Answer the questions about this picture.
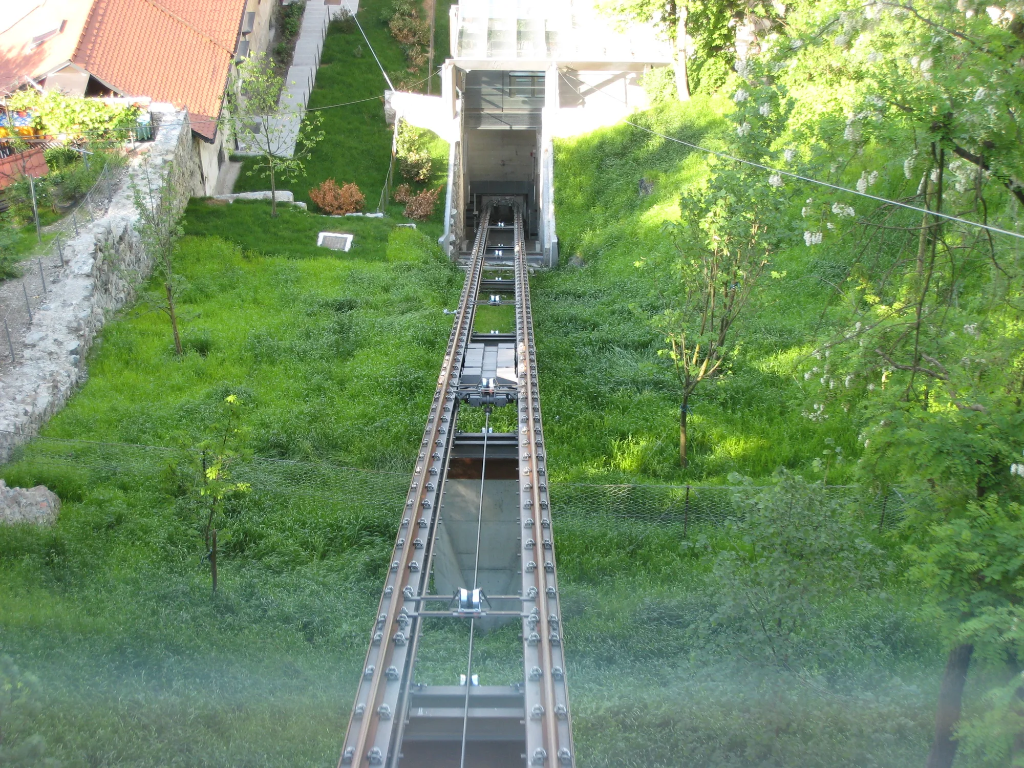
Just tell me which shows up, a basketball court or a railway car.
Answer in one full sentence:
The image shows a railway car.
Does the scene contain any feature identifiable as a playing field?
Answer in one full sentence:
No, there is no playing field in the image.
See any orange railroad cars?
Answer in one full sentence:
No, no orange railroad car is visible in the scene.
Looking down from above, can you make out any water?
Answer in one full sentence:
No, there's no water in this view.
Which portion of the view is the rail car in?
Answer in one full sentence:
You can find the rail car in the center area of the picture.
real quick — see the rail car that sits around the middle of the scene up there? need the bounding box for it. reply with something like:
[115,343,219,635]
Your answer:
[458,340,516,410]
